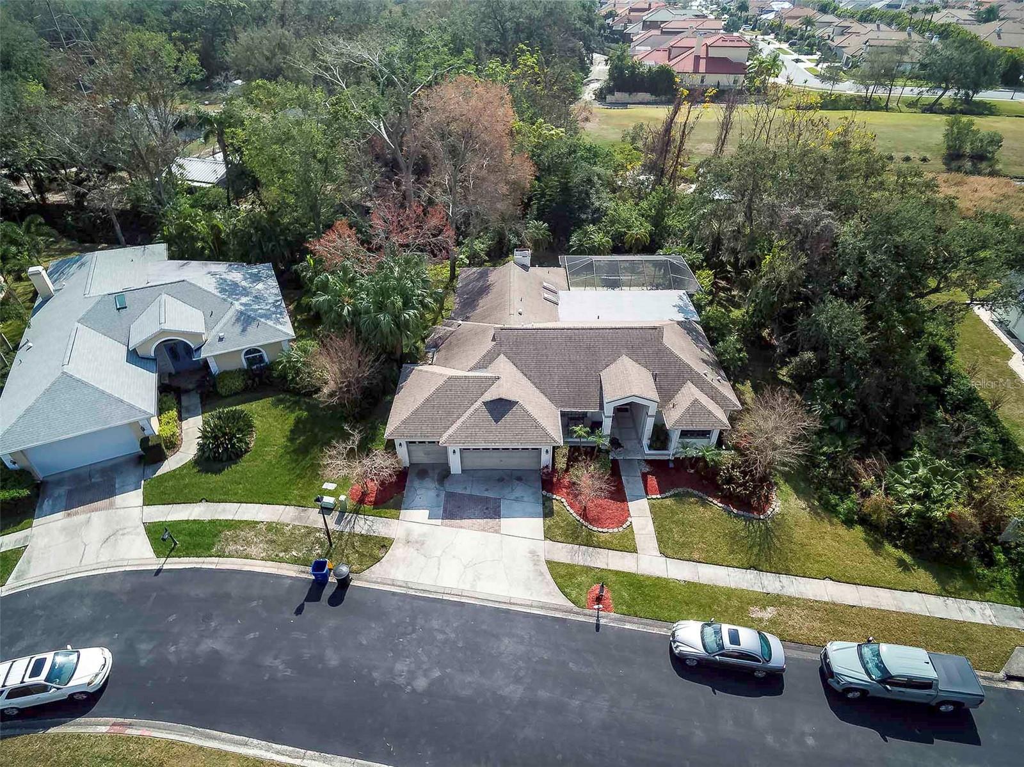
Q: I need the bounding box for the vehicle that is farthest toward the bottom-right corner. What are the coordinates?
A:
[826,643,990,714]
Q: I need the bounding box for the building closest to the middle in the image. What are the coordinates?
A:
[383,248,742,473]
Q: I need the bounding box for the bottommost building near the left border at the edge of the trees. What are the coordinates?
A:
[0,245,301,482]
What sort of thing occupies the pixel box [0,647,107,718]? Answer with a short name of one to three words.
car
